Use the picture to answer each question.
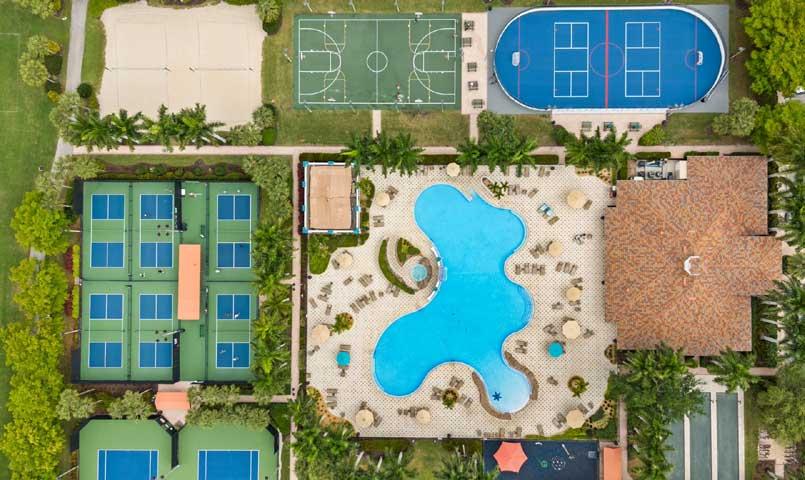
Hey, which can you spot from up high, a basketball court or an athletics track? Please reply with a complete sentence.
Visible in the photo is a basketball court.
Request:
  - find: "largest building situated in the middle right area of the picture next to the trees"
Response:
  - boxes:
[605,155,782,357]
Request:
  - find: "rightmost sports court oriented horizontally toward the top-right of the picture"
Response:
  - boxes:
[487,4,730,114]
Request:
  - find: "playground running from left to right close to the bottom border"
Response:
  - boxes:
[484,442,599,480]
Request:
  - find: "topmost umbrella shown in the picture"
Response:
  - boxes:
[447,163,460,176]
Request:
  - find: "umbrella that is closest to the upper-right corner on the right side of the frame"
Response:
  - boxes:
[567,189,586,208]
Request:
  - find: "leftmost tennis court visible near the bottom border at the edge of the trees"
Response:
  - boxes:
[80,426,171,480]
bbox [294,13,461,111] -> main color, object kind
green basketball court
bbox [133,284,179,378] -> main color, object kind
green sports court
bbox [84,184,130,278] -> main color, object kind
green sports court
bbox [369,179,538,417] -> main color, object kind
blue swimming pool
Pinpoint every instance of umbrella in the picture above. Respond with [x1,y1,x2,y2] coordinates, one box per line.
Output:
[336,351,351,365]
[311,325,329,343]
[548,343,563,357]
[336,251,352,267]
[375,192,389,207]
[549,242,562,255]
[566,287,580,301]
[562,321,580,339]
[447,163,460,176]
[416,408,430,423]
[357,409,374,427]
[567,189,586,208]
[566,410,584,428]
